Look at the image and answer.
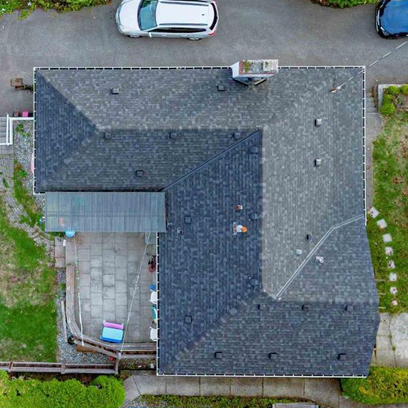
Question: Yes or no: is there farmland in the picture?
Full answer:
No, there is no farmland in the image.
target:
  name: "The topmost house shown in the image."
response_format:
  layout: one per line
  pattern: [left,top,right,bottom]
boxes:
[31,65,382,378]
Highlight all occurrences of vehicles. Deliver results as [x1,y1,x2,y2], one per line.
[114,0,221,42]
[371,0,408,41]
